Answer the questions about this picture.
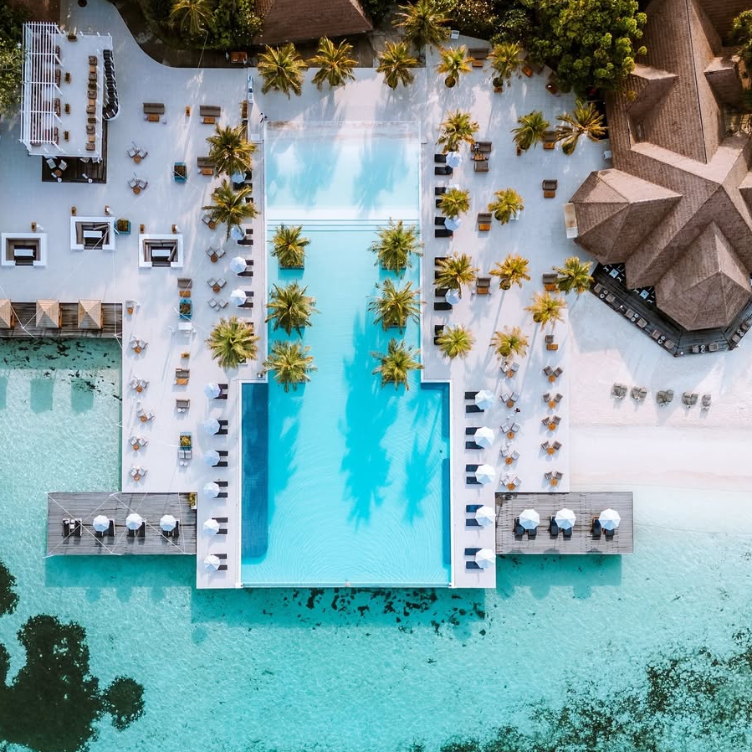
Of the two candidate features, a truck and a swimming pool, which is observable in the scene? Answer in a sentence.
This aerial view contains a swimming pool.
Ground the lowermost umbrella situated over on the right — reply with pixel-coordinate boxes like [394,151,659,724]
[475,548,496,569]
